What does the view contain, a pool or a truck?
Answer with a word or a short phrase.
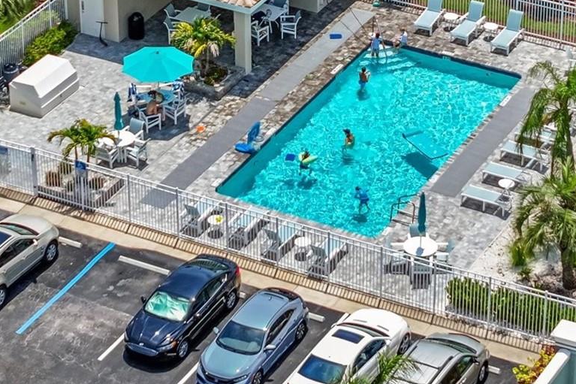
pool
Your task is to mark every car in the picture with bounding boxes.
[389,323,493,384]
[297,301,416,384]
[118,252,243,362]
[194,283,311,384]
[0,213,65,306]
